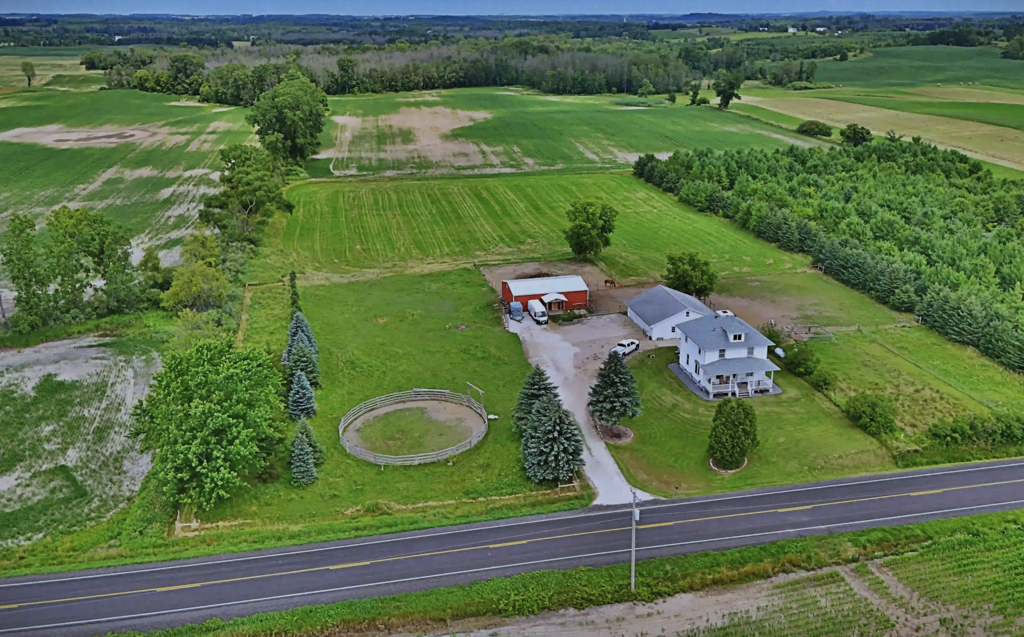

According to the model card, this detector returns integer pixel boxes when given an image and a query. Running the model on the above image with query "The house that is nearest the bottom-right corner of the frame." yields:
[675,313,783,400]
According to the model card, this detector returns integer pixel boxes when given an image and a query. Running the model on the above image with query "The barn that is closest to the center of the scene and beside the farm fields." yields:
[505,276,590,315]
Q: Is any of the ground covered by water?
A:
No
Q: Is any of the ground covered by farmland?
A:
Yes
